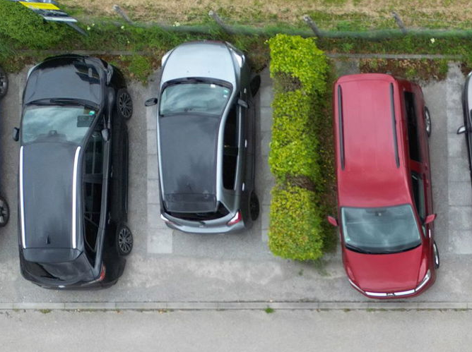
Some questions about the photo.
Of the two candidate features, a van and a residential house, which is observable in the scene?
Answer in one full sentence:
I can see a van in this picture.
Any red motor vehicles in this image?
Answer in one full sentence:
Yes, there is a red motor vehicle in the image.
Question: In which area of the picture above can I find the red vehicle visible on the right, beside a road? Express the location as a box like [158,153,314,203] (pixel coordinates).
[322,75,438,302]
